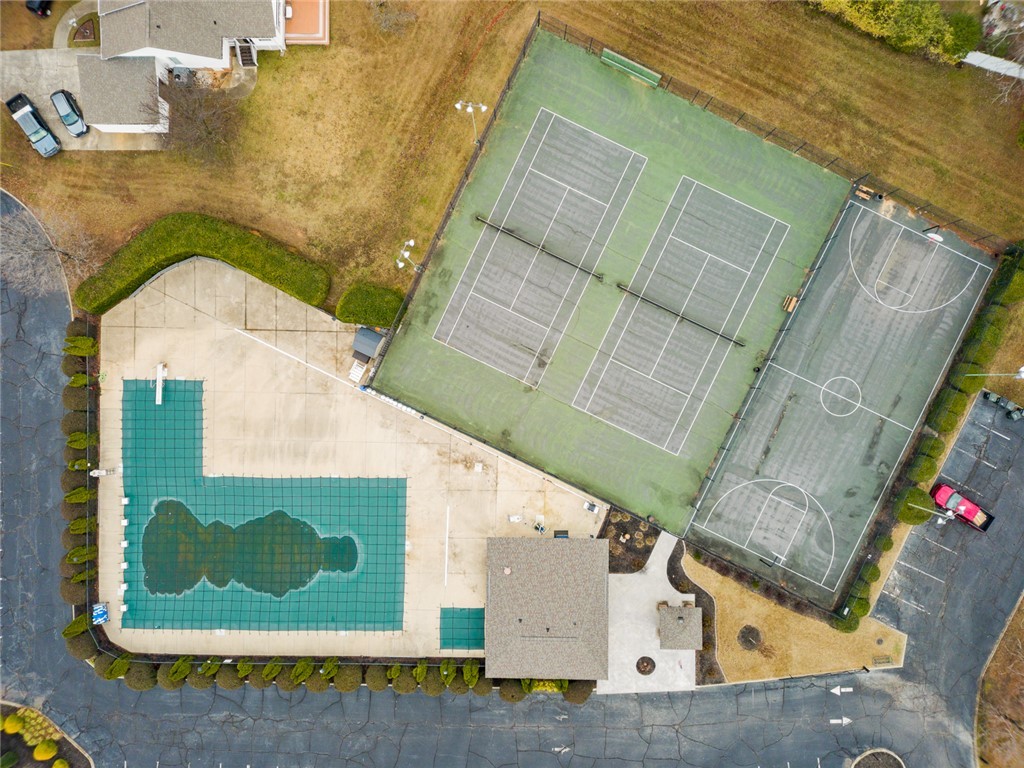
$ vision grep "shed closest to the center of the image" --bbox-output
[347,327,383,359]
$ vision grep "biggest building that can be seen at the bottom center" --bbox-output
[486,536,611,680]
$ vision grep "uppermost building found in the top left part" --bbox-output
[77,0,286,134]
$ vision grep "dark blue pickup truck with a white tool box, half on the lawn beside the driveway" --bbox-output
[4,92,62,159]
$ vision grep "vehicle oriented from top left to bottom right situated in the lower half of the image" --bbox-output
[930,481,996,534]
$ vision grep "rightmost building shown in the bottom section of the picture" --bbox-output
[658,600,702,650]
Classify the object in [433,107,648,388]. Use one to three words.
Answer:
tennis court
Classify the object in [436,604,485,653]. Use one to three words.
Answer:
swimming pool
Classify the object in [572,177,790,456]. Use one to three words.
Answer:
tennis court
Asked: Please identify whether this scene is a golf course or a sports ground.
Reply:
sports ground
